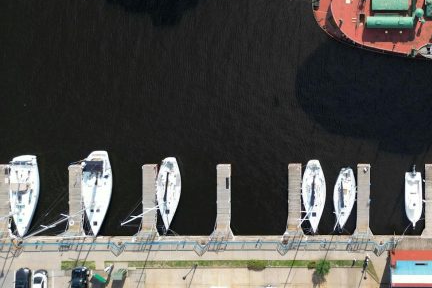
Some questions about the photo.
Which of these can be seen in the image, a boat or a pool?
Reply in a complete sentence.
I can see a boat in this picture.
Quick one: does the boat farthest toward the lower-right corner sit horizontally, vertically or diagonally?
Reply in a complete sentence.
The boat farthest toward the lower-right corner has been laid out vertically relative to the frame.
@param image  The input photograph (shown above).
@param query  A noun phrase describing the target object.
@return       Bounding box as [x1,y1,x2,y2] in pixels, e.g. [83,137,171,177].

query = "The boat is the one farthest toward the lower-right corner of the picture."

[404,168,424,232]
